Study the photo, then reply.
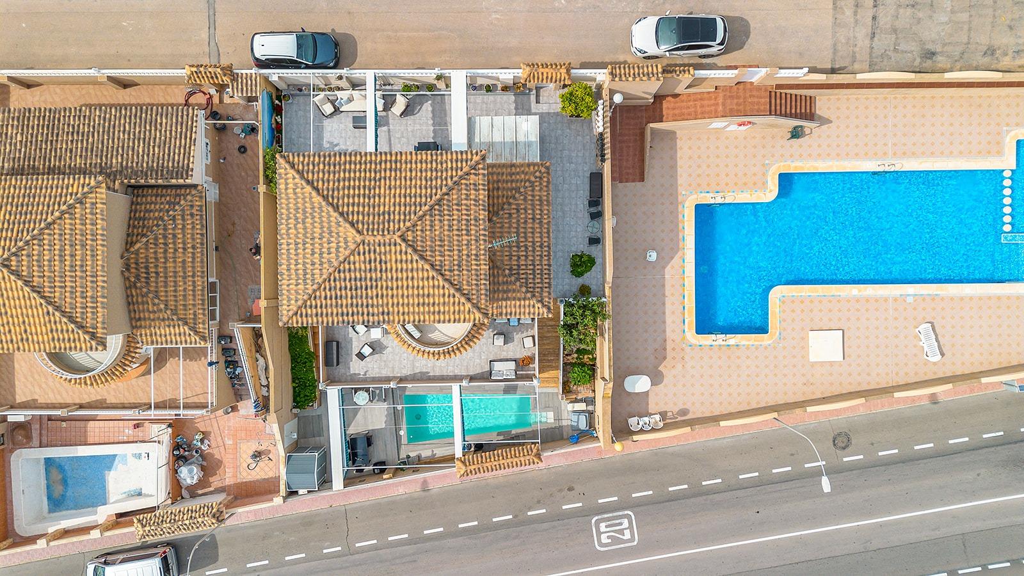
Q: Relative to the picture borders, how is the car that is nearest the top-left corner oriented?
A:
horizontally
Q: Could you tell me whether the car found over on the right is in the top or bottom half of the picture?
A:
top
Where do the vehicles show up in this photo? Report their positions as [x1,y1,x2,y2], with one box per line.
[246,25,342,68]
[79,544,180,576]
[630,10,732,64]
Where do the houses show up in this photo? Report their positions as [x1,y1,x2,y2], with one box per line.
[0,105,235,391]
[274,150,554,361]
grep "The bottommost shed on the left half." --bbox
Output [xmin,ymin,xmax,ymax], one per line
[285,446,328,490]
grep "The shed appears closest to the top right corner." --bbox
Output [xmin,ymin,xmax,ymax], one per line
[606,64,734,106]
